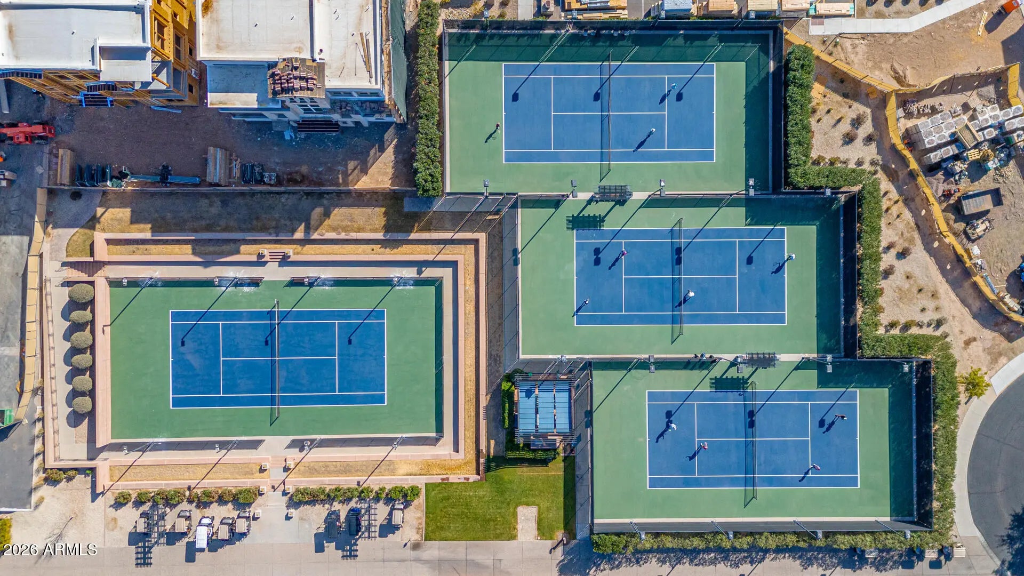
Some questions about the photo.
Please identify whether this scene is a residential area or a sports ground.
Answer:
sports ground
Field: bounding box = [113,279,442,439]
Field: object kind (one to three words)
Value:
tennis court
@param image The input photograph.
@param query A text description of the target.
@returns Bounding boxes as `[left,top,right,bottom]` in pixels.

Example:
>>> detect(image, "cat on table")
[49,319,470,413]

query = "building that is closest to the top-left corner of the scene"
[0,0,211,112]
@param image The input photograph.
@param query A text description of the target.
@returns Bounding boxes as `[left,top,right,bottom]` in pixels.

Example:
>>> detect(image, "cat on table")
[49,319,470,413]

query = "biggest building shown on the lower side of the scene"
[515,373,576,447]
